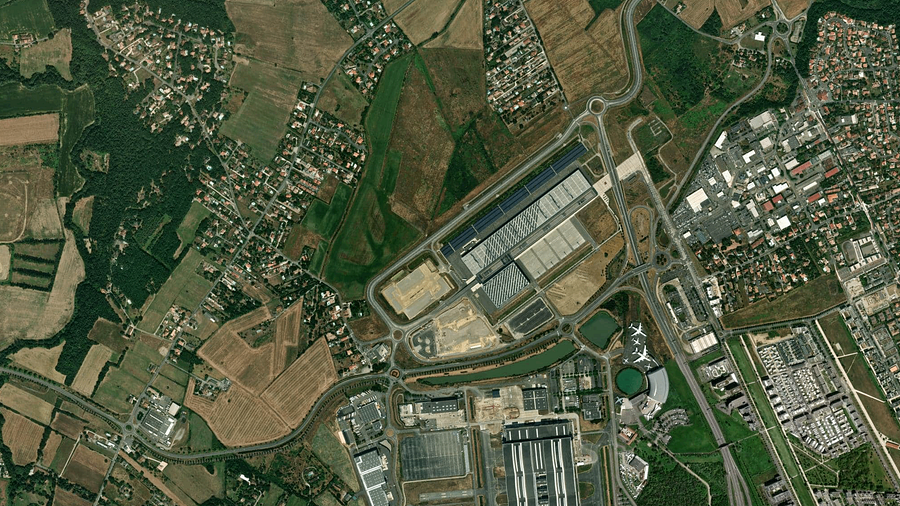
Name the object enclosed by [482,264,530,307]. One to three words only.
building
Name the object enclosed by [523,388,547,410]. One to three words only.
hangar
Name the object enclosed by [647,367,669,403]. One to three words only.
building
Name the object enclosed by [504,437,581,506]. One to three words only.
hangar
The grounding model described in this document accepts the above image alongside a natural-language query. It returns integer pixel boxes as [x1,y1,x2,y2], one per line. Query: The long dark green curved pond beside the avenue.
[416,341,575,385]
